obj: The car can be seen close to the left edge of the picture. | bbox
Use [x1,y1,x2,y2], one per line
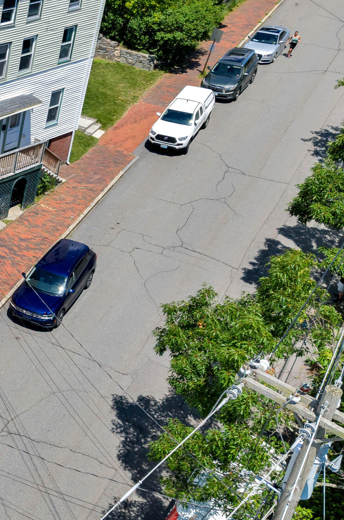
[8,236,103,332]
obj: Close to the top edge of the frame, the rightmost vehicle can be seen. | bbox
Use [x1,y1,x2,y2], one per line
[244,23,293,63]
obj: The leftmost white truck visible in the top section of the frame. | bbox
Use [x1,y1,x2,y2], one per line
[147,84,220,157]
